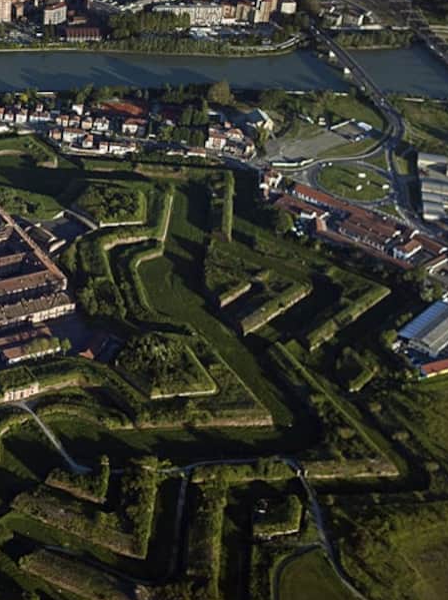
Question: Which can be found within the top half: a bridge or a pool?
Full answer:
There is a bridge within the top half.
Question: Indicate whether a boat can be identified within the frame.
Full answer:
No, there isn't any boat down there.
